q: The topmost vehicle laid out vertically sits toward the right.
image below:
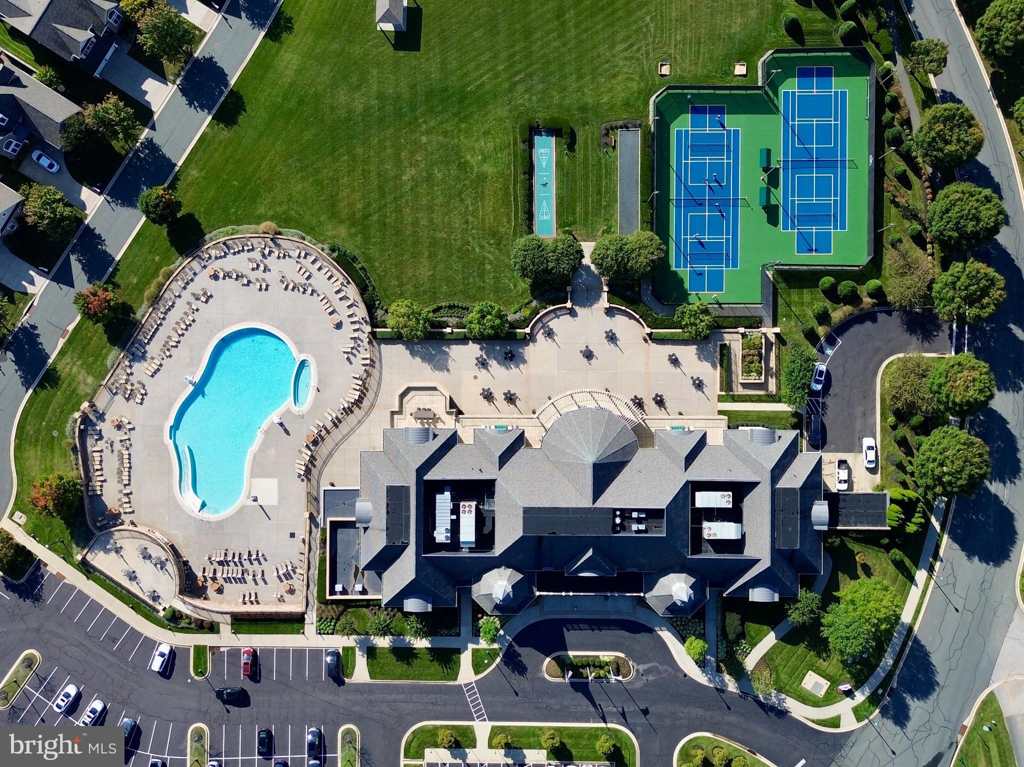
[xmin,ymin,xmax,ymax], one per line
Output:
[810,362,827,392]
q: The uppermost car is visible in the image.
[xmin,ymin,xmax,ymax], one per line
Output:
[32,149,61,174]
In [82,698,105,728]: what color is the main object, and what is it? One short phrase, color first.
white car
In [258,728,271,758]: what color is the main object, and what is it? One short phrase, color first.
black vehicle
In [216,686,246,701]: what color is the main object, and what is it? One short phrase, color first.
black car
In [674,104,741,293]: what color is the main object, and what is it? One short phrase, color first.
blue tennis court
